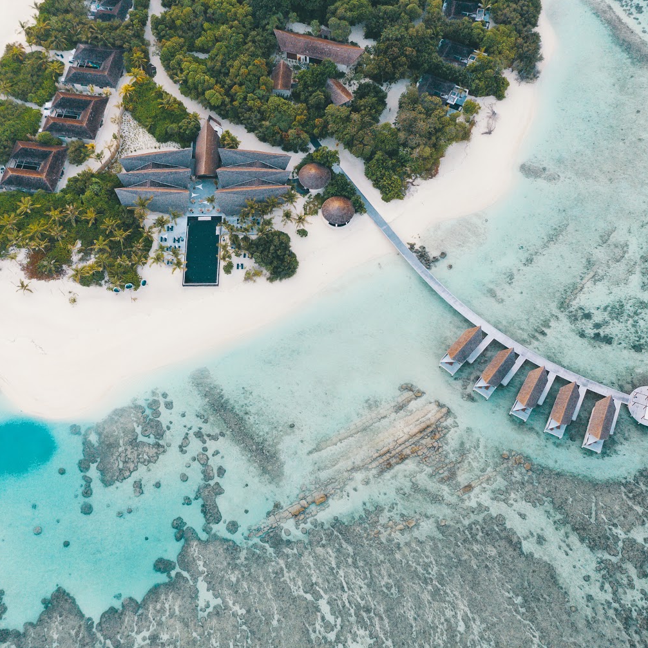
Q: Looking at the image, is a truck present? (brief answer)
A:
No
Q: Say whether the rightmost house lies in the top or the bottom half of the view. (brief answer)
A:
bottom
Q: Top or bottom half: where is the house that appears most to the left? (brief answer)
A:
top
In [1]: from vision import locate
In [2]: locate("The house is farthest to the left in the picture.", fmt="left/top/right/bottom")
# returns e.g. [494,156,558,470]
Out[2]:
[0,140,68,194]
